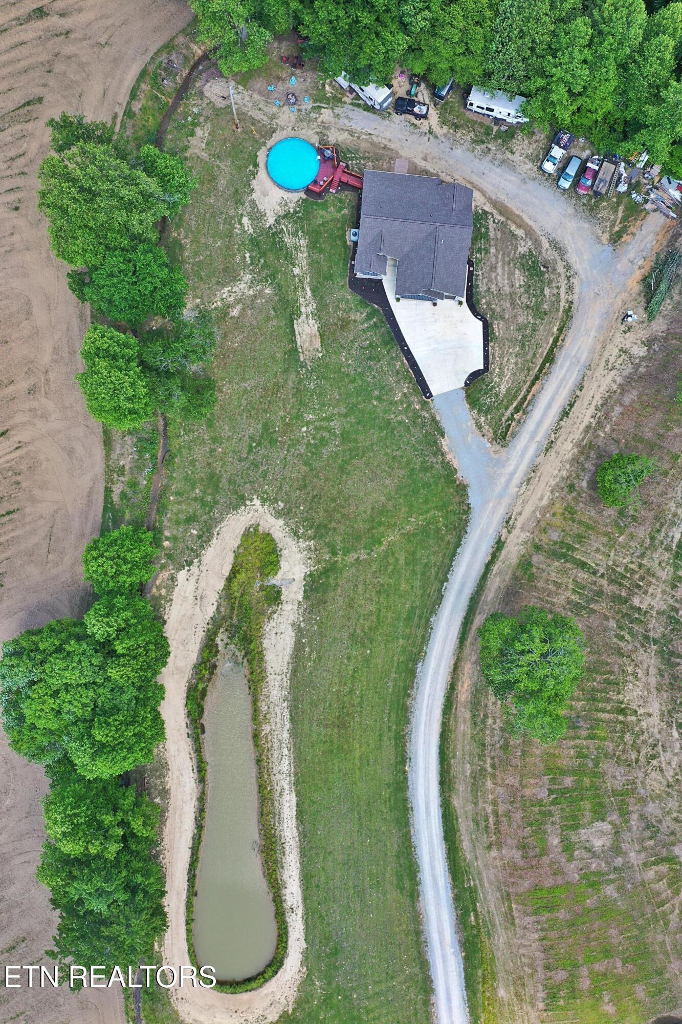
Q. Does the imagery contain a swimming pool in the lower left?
No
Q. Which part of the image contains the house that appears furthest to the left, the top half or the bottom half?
top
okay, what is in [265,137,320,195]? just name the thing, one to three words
swimming pool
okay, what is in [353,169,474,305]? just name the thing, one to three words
house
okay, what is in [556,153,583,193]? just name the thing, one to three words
car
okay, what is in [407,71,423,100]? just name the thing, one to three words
work vehicle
